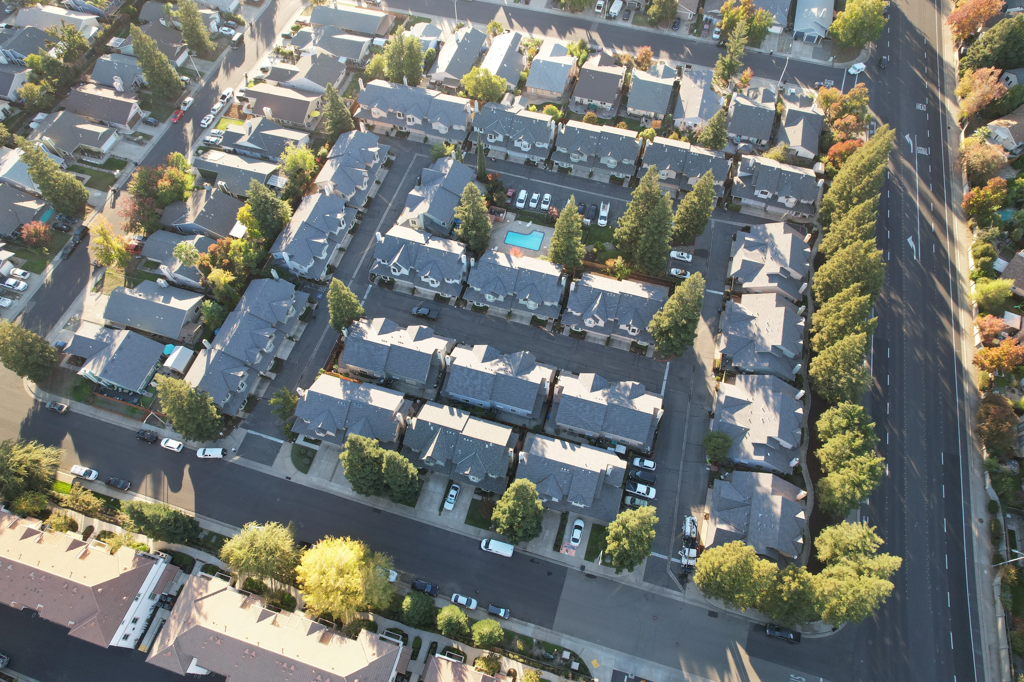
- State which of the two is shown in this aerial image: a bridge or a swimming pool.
swimming pool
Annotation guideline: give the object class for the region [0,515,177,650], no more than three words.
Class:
building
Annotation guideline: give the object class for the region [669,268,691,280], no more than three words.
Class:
vehicle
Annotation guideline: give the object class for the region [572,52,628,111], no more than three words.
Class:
house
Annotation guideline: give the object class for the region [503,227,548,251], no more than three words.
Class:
swimming pool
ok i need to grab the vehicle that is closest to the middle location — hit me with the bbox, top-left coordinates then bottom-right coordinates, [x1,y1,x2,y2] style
[411,307,439,321]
